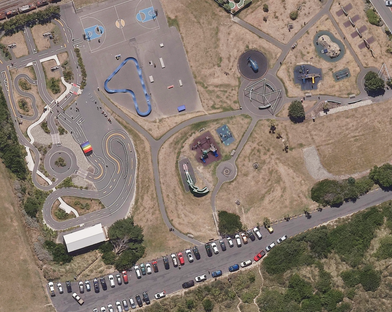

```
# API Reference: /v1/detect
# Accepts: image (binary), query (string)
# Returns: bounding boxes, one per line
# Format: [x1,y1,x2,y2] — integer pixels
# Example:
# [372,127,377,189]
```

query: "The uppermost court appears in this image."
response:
[79,0,162,52]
